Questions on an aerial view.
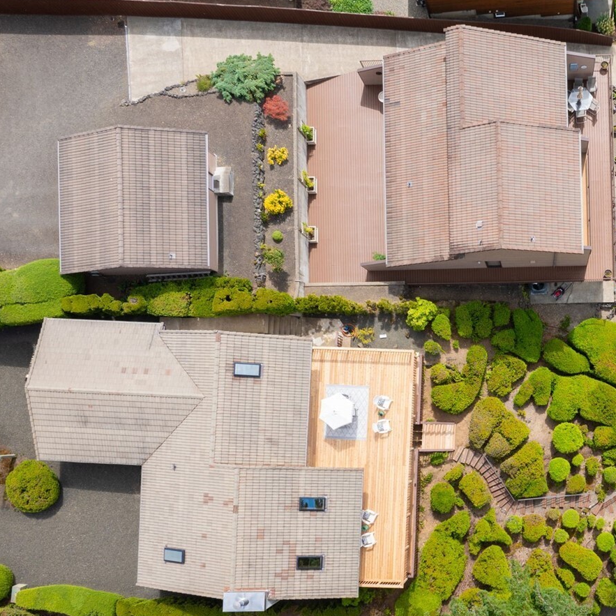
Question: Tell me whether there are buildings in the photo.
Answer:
Yes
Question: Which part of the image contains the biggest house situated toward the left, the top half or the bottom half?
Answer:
bottom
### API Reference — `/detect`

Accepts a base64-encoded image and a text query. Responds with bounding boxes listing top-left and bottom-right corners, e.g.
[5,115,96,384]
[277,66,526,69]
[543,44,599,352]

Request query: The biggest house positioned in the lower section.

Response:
[24,317,365,612]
